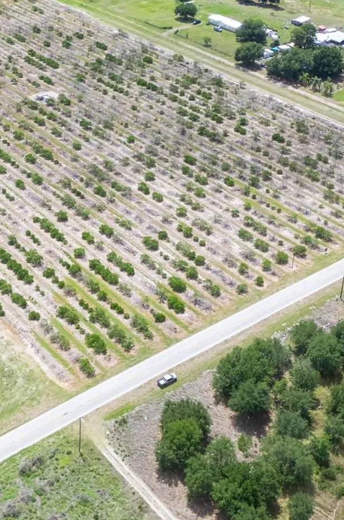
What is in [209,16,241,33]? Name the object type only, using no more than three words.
house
